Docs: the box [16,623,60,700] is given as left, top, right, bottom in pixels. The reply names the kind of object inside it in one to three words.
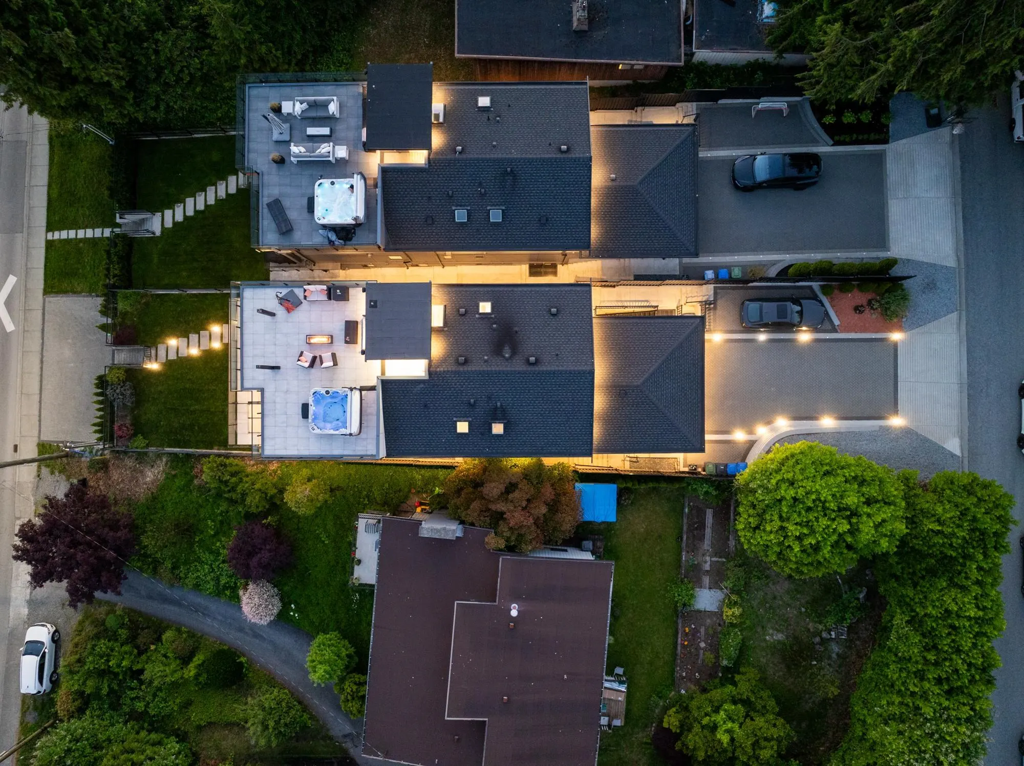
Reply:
car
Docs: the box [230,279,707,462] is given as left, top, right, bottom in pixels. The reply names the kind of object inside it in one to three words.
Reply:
house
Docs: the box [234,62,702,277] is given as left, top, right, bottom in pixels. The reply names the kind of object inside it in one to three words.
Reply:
house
